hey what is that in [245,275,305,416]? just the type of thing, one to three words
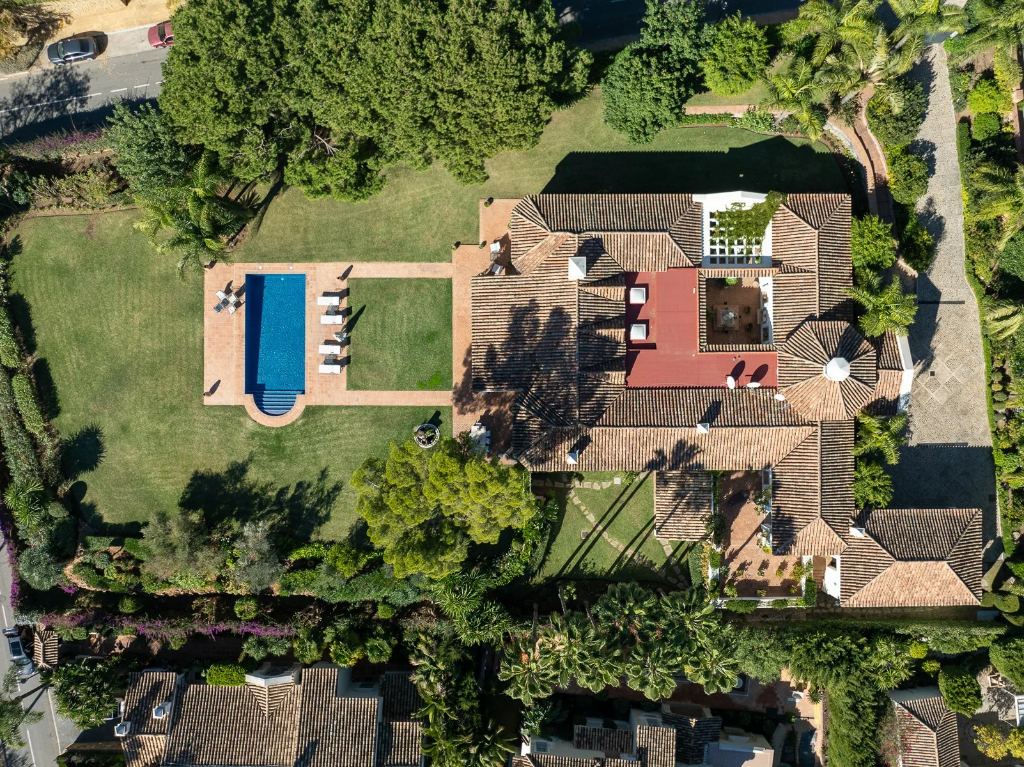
swimming pool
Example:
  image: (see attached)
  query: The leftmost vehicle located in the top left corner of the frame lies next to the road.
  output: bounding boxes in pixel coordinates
[42,33,96,64]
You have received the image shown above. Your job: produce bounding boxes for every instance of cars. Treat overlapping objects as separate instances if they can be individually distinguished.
[42,33,96,64]
[0,628,35,683]
[142,16,194,46]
